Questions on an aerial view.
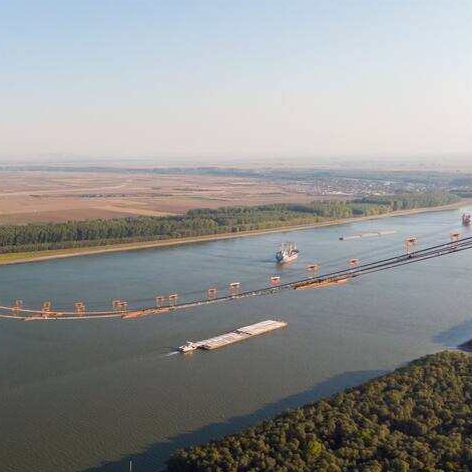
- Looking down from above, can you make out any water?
Yes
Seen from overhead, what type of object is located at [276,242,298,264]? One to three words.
ship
